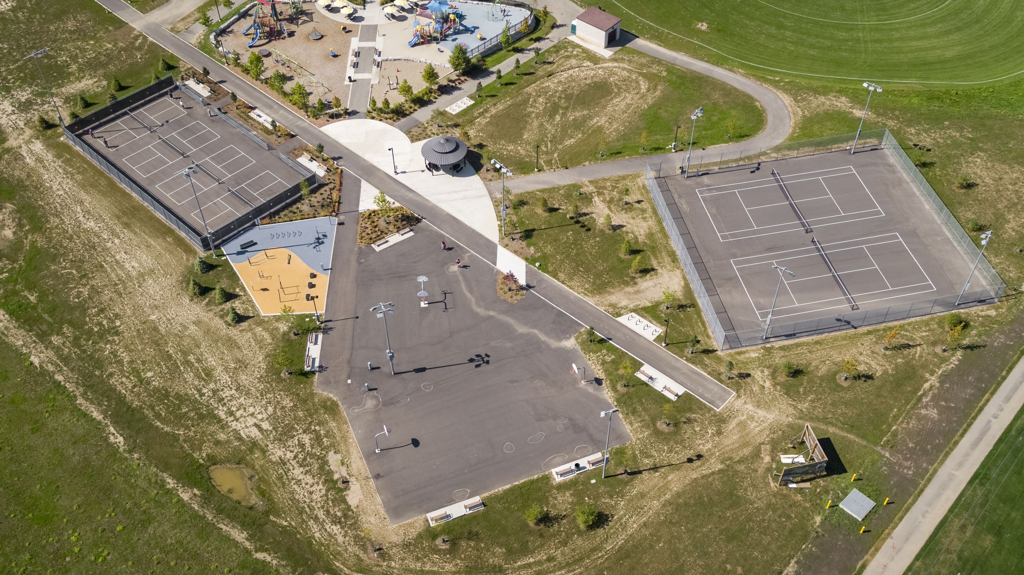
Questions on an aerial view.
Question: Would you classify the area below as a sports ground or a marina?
sports ground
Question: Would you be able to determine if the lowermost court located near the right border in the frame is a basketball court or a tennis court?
tennis court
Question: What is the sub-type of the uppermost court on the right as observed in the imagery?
tennis court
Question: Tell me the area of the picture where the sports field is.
top right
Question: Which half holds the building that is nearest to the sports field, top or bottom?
top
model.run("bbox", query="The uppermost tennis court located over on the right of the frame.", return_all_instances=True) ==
[645,143,939,257]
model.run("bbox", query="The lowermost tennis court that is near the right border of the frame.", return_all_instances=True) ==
[679,216,1001,352]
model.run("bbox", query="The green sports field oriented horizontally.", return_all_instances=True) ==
[605,0,1024,89]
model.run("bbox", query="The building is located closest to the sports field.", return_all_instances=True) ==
[575,3,624,48]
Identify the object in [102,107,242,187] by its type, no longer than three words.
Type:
sports court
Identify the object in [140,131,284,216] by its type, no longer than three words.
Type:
sports court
